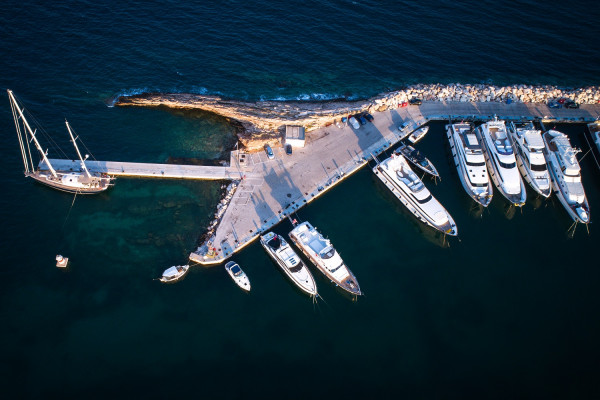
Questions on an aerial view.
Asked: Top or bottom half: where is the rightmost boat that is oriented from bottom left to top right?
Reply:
top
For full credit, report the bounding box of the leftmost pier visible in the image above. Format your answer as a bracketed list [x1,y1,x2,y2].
[38,159,230,183]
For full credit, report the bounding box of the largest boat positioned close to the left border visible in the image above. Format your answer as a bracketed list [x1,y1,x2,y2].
[4,89,115,210]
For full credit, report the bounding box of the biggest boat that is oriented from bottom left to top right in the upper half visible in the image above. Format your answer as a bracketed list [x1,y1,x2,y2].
[408,123,428,145]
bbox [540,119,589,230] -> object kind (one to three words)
boat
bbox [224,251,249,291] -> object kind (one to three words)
boat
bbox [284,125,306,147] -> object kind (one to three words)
shed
